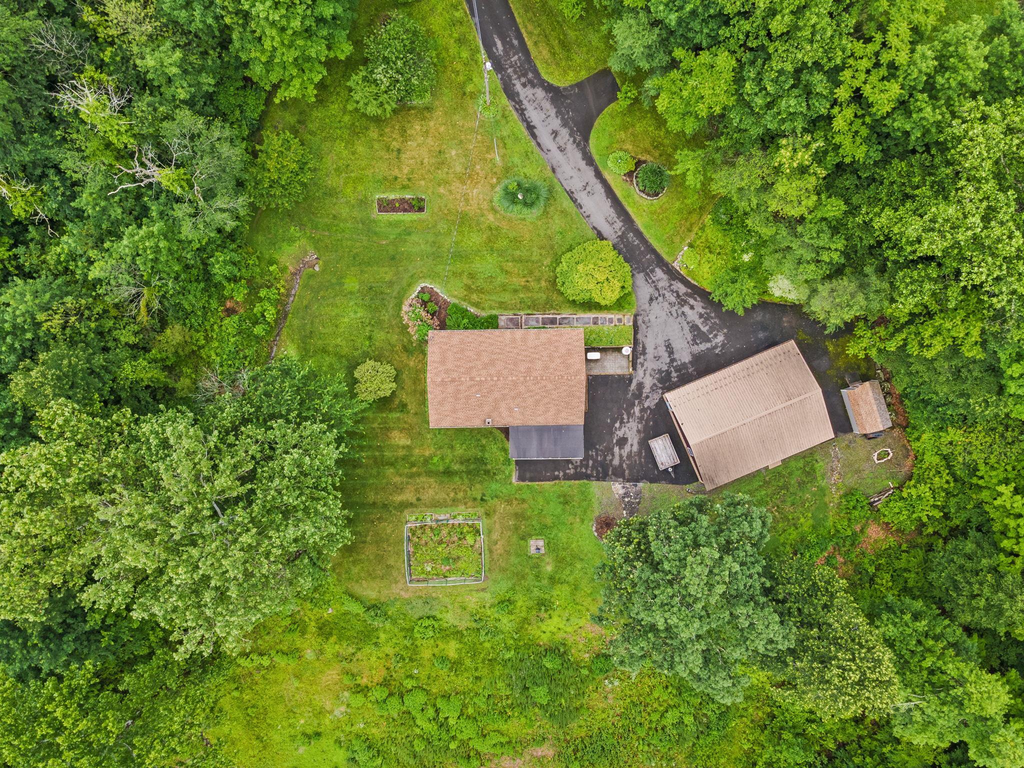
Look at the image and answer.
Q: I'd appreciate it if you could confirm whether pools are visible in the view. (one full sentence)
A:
No, this view has no pool in it.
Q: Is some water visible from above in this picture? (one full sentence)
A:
No, there is no water in the image.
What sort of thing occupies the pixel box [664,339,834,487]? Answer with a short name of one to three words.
building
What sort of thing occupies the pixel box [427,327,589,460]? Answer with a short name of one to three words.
house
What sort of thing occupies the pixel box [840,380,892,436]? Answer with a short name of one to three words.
shed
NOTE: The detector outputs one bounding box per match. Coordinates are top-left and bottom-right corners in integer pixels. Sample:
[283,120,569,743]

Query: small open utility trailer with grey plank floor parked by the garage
[648,433,680,480]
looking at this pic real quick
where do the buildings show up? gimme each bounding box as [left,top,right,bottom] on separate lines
[840,380,892,436]
[664,339,834,487]
[427,327,589,460]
